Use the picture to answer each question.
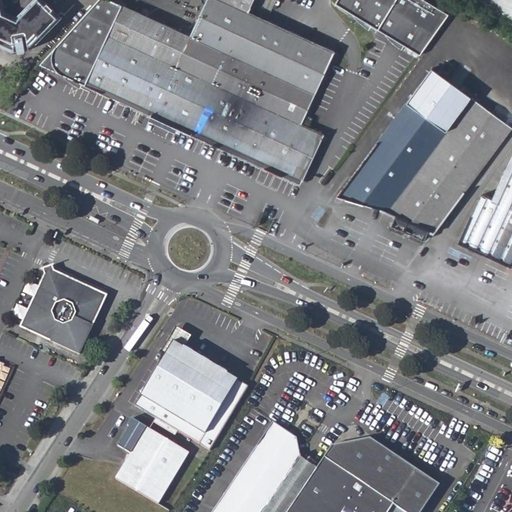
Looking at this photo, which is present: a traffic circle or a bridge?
traffic circle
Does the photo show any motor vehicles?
Yes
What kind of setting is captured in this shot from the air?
industrial area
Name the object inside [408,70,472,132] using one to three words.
building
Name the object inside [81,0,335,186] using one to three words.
warehouse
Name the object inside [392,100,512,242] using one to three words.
warehouse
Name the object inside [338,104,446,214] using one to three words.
building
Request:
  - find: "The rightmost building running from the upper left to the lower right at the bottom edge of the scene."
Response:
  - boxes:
[326,438,440,512]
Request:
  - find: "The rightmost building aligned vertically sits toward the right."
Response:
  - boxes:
[460,142,512,266]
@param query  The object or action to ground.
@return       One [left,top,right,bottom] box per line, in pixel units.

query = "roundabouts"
[165,222,214,272]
